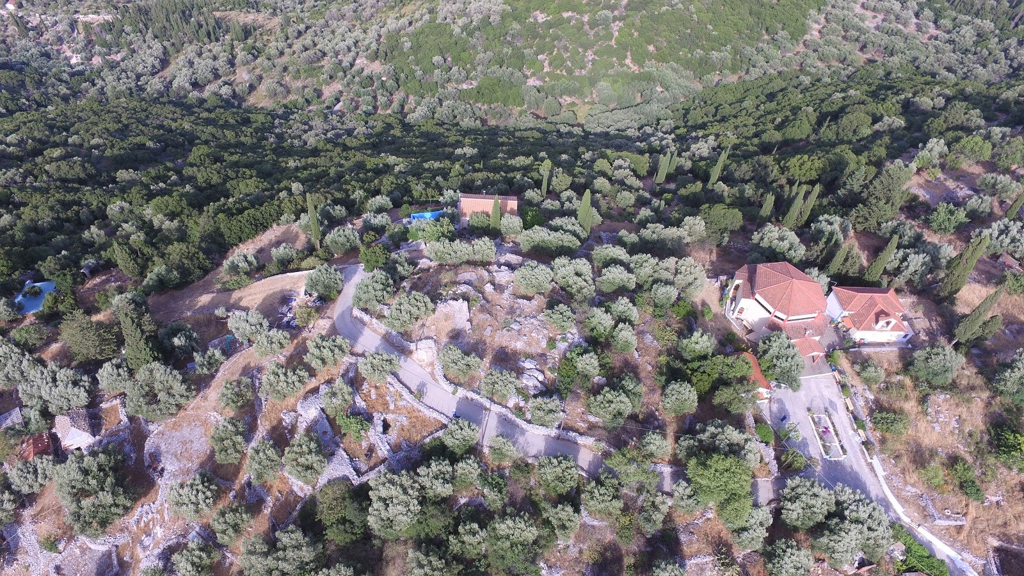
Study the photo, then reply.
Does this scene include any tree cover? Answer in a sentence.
Yes, tree cover shows up in the scene.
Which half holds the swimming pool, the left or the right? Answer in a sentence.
The swimming pool appears in the left half of the scene.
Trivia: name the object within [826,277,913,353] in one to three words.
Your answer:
house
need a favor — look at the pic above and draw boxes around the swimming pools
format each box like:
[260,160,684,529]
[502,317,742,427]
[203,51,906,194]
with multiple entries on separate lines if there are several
[13,280,61,305]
